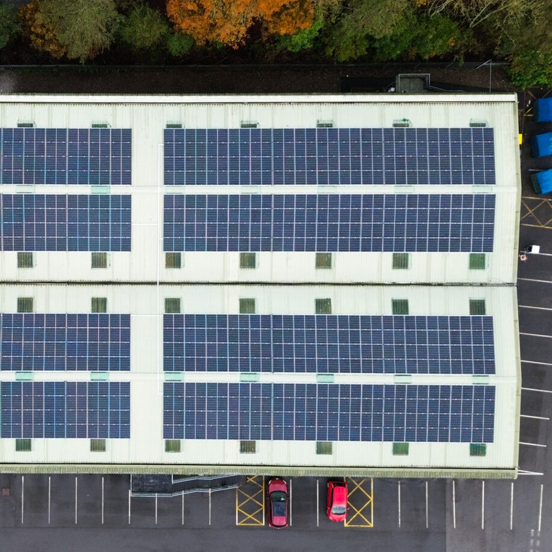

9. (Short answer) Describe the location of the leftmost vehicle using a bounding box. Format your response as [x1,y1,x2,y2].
[265,476,291,529]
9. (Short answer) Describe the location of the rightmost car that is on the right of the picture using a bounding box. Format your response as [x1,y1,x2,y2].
[324,478,349,521]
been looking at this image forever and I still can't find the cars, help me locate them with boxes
[265,476,291,529]
[324,478,349,521]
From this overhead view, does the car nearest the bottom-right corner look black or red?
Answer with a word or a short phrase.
red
